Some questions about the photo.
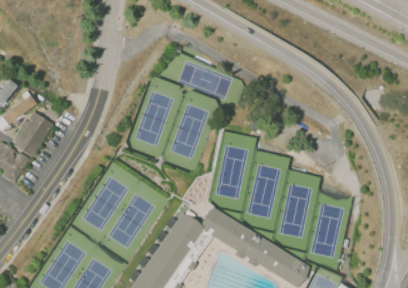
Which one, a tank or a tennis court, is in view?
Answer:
tennis court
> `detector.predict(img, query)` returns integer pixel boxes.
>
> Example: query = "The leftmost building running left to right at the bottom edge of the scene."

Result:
[134,210,310,288]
